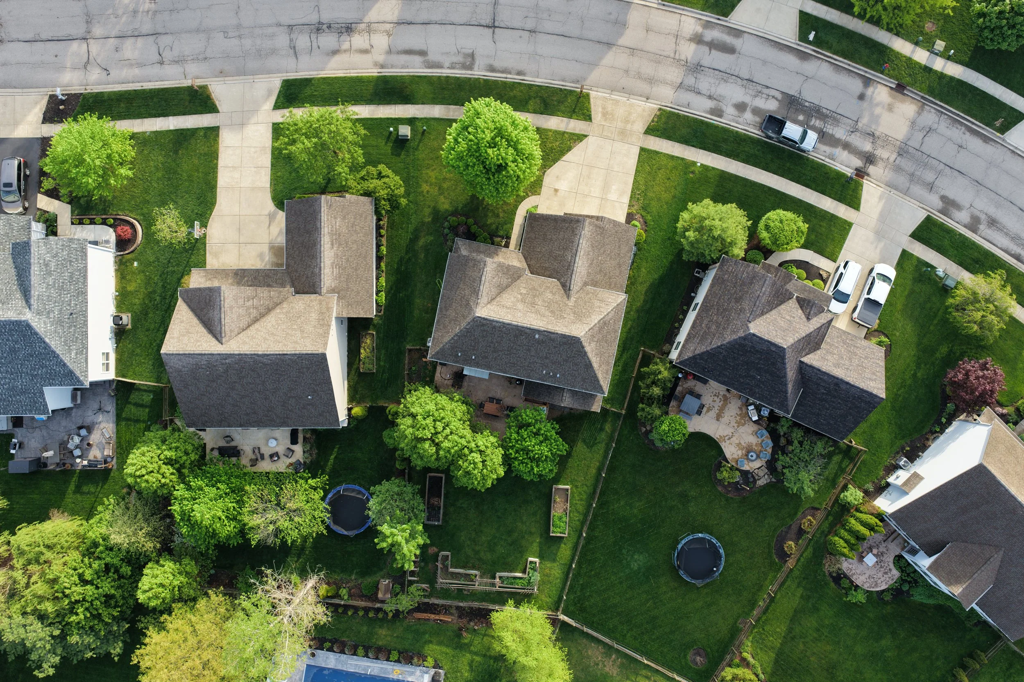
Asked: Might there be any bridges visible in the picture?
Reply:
No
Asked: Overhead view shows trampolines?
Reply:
Yes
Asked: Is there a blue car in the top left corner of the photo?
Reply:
No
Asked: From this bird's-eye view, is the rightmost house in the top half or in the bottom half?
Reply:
bottom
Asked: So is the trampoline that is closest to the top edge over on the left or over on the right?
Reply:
left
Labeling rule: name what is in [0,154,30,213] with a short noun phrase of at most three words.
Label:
car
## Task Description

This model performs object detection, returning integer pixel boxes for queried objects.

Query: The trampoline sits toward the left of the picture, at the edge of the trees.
[324,489,370,536]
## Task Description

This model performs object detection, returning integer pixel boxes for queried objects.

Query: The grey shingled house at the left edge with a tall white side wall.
[0,214,116,417]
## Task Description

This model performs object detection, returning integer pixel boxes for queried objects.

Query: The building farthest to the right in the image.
[869,410,1024,642]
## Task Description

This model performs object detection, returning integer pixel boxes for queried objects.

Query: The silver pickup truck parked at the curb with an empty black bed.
[758,110,822,151]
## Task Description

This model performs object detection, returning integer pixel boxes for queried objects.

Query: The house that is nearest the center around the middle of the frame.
[427,212,638,413]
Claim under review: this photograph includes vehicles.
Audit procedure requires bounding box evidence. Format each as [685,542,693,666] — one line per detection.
[828,256,866,316]
[0,154,30,213]
[758,110,822,151]
[853,262,895,331]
